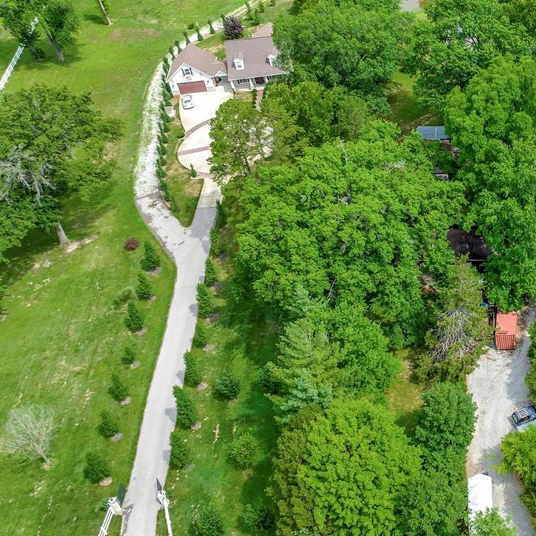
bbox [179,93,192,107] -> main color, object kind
white vehicle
